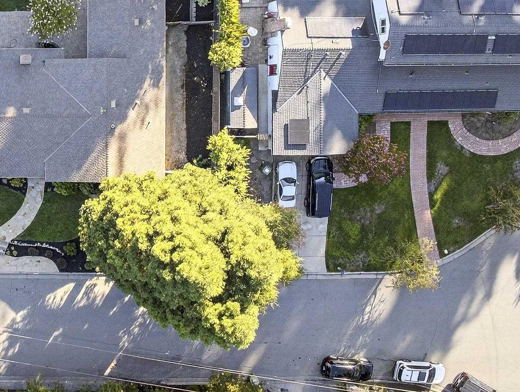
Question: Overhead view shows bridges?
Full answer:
No, this view has no bridge in it.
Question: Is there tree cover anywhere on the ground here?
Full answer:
Yes, the picture does contain tree cover.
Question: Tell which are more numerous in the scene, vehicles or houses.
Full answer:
There are fewer houses than vehicles.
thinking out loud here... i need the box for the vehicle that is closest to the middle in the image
[277,160,303,209]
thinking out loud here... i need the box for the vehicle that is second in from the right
[395,361,450,389]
